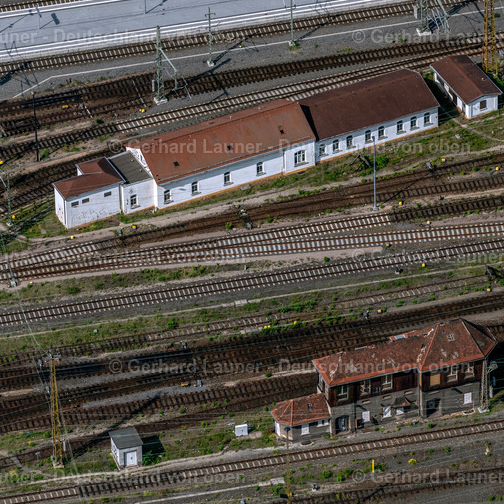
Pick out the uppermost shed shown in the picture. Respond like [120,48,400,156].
[426,55,504,118]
